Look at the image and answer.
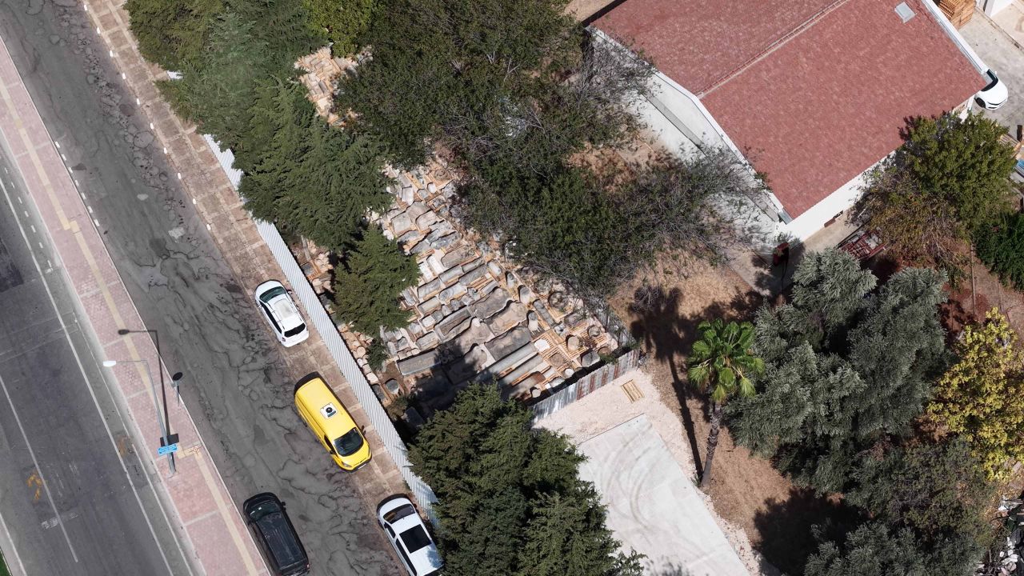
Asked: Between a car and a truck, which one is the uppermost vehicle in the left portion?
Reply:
car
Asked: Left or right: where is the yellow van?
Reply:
left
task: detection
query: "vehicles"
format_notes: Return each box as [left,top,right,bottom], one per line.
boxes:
[377,496,441,576]
[255,283,310,349]
[245,498,313,576]
[973,52,1010,109]
[295,374,367,470]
